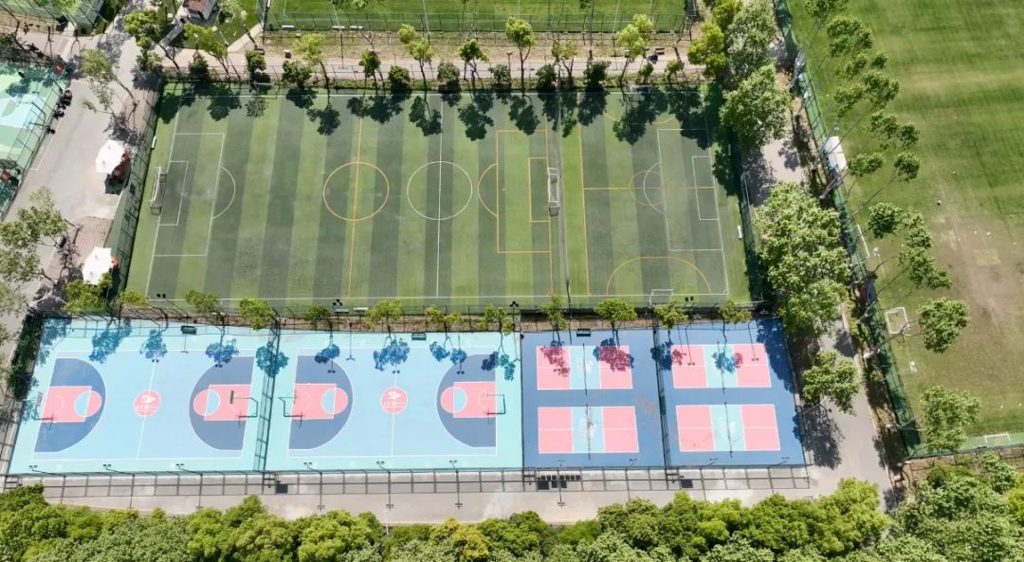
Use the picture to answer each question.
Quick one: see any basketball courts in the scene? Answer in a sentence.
Yes, this view includes a basketball court.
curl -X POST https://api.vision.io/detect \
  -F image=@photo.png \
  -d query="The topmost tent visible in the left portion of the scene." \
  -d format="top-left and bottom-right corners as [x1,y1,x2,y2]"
[96,139,125,182]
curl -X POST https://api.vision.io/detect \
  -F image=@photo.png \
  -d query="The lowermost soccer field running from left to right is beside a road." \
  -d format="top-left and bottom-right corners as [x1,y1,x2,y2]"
[121,84,750,314]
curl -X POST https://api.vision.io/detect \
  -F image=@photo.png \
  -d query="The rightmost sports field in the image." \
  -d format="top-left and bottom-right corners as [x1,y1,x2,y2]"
[785,0,1024,457]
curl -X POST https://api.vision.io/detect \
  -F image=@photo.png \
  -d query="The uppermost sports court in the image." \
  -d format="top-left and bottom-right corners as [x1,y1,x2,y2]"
[0,66,70,223]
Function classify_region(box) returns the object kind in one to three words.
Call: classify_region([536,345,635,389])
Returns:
sports court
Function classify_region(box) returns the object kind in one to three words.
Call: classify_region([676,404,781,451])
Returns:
sports court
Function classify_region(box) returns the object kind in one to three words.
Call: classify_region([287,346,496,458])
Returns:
basketball court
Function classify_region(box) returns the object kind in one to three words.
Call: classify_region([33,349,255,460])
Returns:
basketball court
